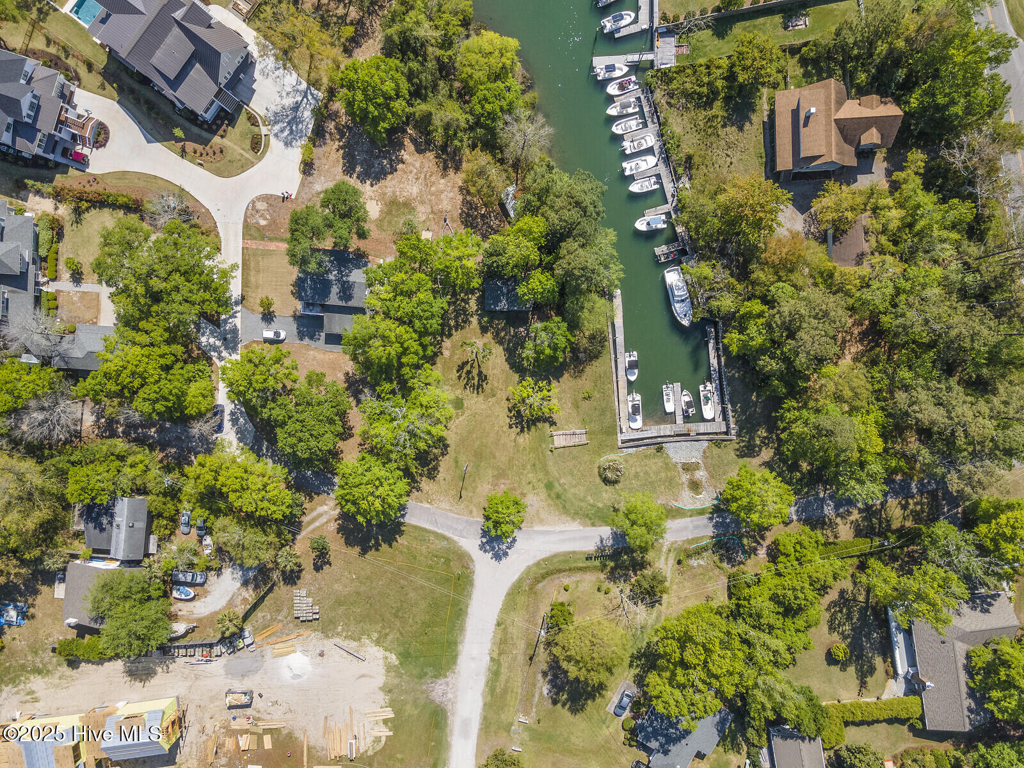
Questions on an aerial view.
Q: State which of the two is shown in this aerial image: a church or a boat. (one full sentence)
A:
It is a boat that can be seen here.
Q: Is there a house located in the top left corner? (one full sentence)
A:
Yes, I can see a house in the top left corner.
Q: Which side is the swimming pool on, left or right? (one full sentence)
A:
The swimming pool sits on the left side.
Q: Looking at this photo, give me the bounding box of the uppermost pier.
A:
[615,0,652,39]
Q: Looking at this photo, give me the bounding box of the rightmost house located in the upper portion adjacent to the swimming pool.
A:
[87,0,257,128]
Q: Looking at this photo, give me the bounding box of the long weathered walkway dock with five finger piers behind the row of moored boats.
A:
[613,87,693,256]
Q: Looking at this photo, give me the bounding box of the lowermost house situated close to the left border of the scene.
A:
[0,694,191,768]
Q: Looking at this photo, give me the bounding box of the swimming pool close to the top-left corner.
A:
[66,0,103,28]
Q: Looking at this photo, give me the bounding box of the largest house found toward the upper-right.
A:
[769,79,904,183]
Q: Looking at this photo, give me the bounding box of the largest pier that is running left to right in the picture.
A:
[621,421,727,440]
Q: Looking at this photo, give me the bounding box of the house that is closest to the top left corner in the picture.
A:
[0,50,103,162]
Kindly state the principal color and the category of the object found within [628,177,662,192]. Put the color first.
white boat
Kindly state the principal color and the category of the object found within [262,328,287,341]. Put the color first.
white vehicle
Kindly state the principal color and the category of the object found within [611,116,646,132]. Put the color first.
white boat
